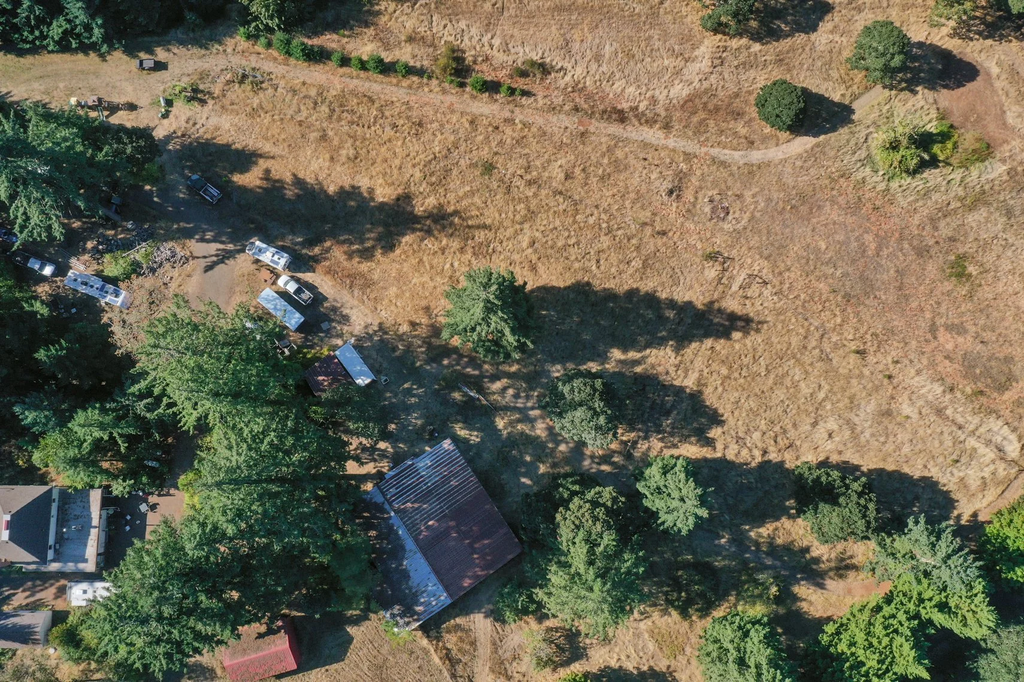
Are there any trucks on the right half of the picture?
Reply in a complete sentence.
No, the scene shows no truck on the right half of the picture.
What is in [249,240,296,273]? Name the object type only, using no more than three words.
camper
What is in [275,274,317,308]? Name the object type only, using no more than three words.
truck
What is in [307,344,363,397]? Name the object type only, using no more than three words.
building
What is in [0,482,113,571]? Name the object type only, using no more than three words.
house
